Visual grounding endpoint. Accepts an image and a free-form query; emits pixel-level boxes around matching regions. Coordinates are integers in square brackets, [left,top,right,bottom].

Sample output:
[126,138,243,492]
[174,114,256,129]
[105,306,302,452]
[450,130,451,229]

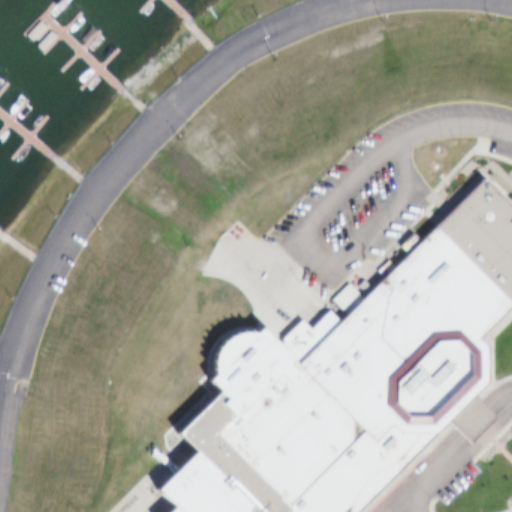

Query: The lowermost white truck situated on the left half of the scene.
[147,444,172,468]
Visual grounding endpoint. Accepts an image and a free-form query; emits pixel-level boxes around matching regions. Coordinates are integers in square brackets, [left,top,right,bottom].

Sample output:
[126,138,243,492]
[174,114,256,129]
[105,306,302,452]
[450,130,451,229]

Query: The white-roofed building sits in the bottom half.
[156,175,512,512]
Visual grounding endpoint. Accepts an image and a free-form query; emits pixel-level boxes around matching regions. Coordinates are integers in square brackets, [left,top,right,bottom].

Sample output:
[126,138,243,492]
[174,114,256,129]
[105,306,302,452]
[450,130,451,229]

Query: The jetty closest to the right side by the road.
[138,0,215,50]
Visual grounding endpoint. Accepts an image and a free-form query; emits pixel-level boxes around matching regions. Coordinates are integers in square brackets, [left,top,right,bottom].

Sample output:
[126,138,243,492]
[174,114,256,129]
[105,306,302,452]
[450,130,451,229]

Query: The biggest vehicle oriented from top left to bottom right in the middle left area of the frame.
[74,234,90,250]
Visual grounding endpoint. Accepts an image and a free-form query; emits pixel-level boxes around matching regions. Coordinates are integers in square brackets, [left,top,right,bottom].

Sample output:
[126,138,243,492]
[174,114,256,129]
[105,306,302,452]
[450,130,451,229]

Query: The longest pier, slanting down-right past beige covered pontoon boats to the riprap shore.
[23,4,148,111]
